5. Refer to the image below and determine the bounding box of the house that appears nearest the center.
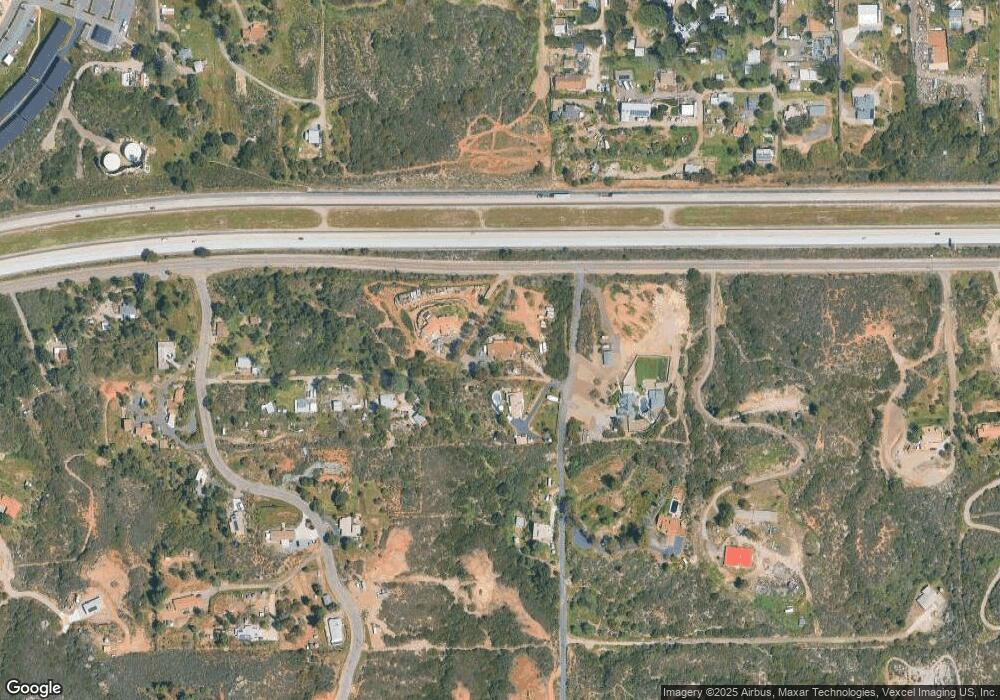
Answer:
[485,337,524,358]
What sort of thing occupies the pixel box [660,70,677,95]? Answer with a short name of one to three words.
house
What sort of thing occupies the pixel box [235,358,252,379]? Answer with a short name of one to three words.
house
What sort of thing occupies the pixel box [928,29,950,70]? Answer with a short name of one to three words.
building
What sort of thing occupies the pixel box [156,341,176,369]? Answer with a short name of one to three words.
building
